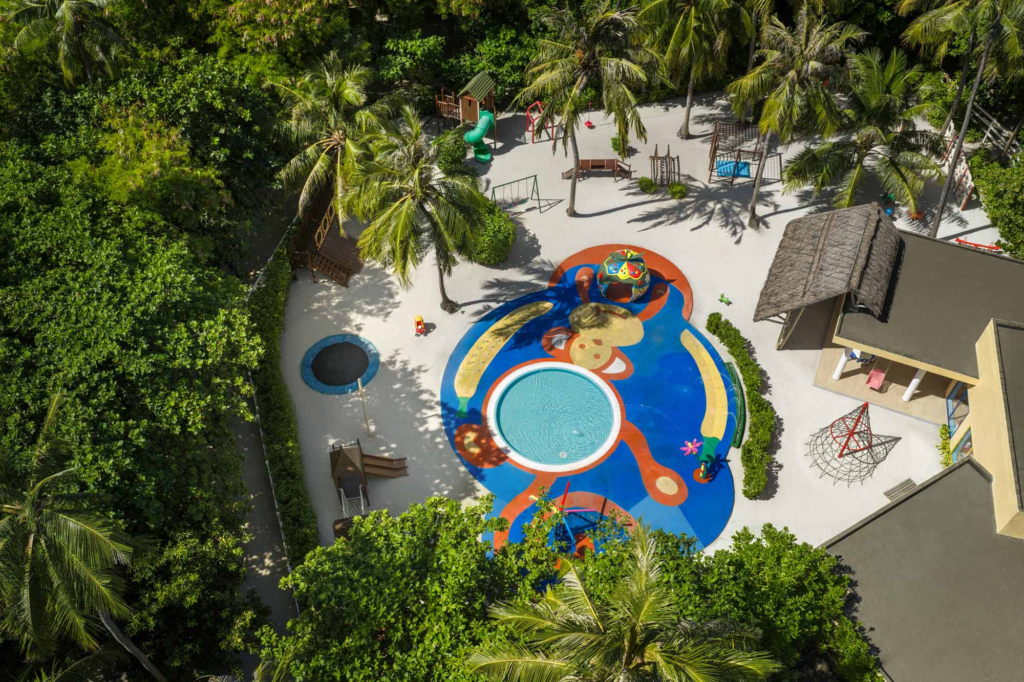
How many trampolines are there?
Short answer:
1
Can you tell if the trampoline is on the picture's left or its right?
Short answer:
left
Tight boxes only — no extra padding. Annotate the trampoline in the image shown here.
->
[301,334,379,398]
